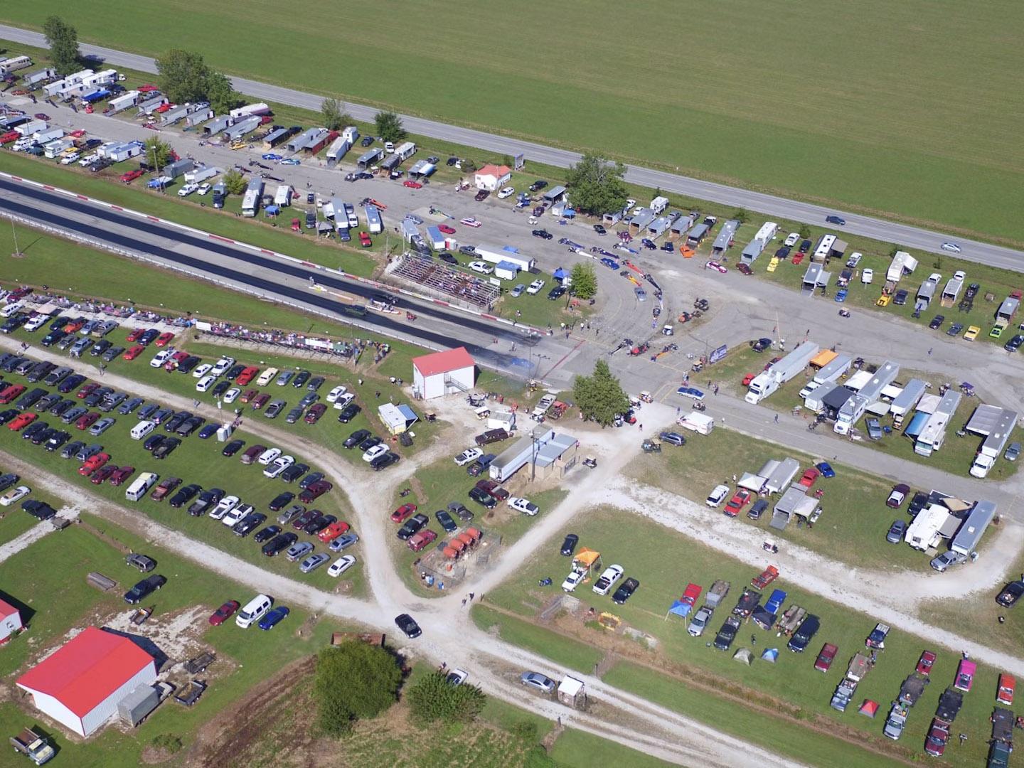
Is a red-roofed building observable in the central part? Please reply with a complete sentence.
Yes, a red-roofed building is visible in the central part.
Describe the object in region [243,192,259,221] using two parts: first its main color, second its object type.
white camper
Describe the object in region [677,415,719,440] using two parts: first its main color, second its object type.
white vehicle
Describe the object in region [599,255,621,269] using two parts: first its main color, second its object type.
blue car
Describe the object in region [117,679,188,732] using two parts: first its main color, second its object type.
gray truck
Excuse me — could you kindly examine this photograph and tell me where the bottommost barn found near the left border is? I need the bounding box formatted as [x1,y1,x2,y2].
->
[8,619,158,737]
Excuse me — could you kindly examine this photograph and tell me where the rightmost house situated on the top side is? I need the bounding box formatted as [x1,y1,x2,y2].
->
[474,165,515,190]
